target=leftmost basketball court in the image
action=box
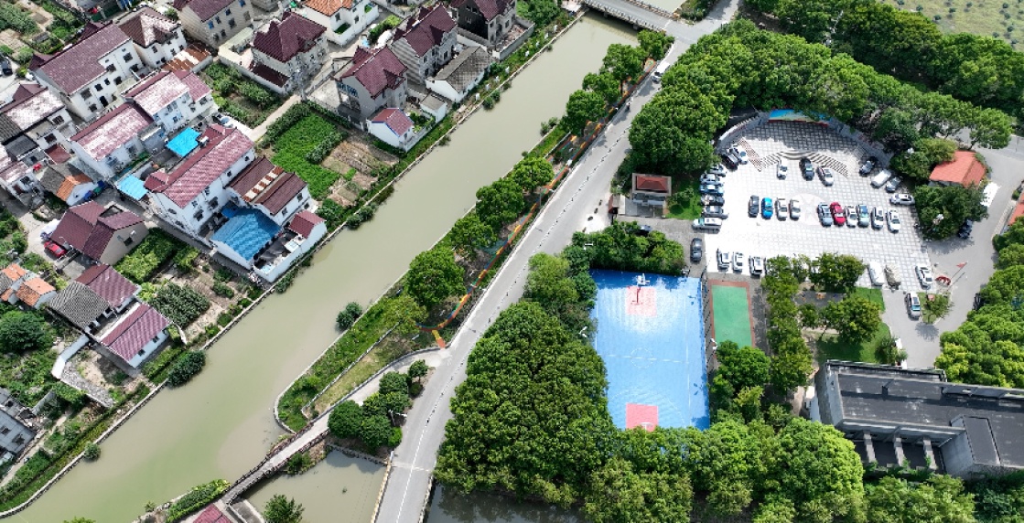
[580,265,717,465]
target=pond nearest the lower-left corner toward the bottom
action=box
[256,450,387,523]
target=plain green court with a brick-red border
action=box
[709,279,757,388]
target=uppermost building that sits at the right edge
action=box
[927,152,984,199]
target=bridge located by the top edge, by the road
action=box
[582,0,685,34]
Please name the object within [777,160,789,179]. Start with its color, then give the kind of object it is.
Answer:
white vehicle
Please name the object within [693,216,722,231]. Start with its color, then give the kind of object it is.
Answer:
white vehicle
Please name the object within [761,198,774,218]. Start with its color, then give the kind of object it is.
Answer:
blue vehicle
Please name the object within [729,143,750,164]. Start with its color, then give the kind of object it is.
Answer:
white car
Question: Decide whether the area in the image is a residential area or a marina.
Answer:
residential area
